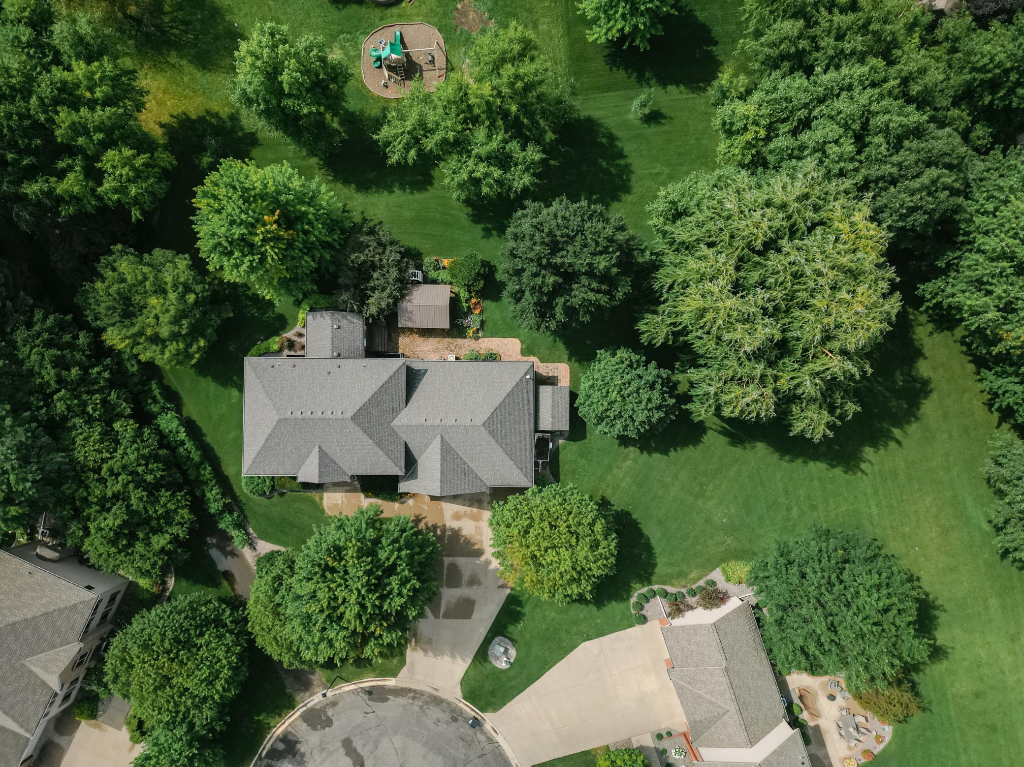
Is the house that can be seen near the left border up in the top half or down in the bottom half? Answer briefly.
bottom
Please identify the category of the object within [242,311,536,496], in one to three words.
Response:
house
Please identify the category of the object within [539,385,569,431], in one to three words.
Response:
shed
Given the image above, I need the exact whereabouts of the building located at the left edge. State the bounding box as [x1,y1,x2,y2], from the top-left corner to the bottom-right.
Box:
[0,525,125,767]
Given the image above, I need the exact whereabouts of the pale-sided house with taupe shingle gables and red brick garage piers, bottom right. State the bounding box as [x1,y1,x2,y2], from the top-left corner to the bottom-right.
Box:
[648,593,810,767]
